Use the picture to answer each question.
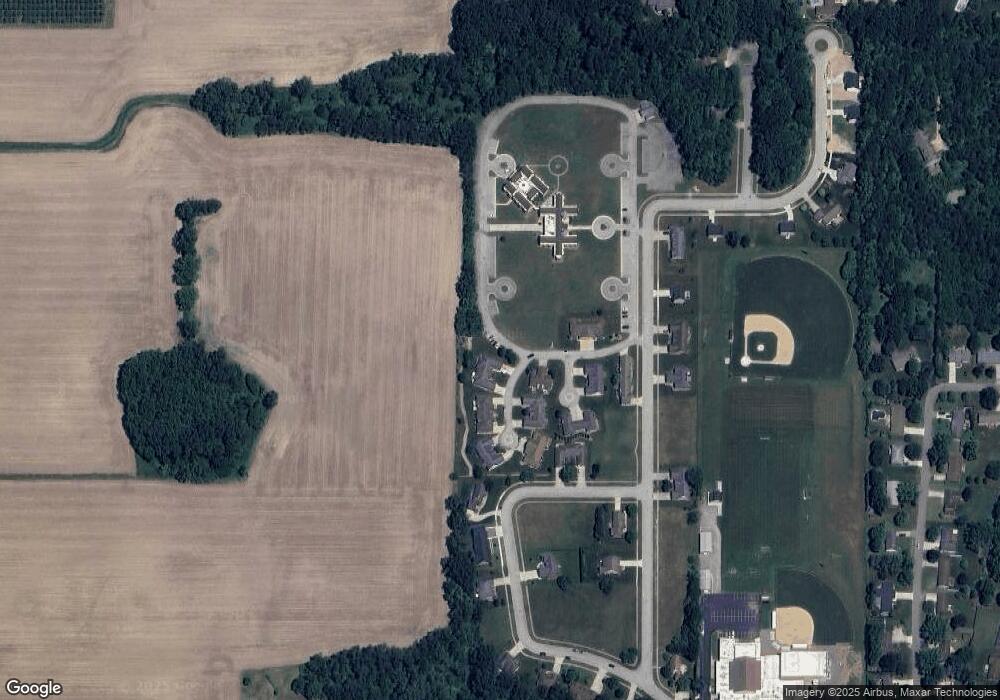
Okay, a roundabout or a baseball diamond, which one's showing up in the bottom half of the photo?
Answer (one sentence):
Visible in the bottom half of the photo is a baseball diamond.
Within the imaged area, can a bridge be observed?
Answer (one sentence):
No, the frame has no bridge in it.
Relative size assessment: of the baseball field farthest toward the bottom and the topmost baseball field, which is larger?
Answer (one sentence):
The topmost baseball field takes up more space than the baseball field farthest toward the bottom.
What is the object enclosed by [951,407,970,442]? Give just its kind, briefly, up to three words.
house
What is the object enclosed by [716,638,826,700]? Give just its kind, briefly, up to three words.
building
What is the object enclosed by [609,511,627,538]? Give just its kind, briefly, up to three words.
house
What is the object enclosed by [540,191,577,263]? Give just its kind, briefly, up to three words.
building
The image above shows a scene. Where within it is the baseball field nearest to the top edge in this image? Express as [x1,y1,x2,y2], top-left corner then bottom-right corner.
[732,256,854,380]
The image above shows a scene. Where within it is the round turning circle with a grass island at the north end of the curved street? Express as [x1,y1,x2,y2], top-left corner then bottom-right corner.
[803,25,842,64]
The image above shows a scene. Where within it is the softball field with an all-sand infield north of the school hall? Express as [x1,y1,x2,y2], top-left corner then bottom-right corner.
[775,569,852,646]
